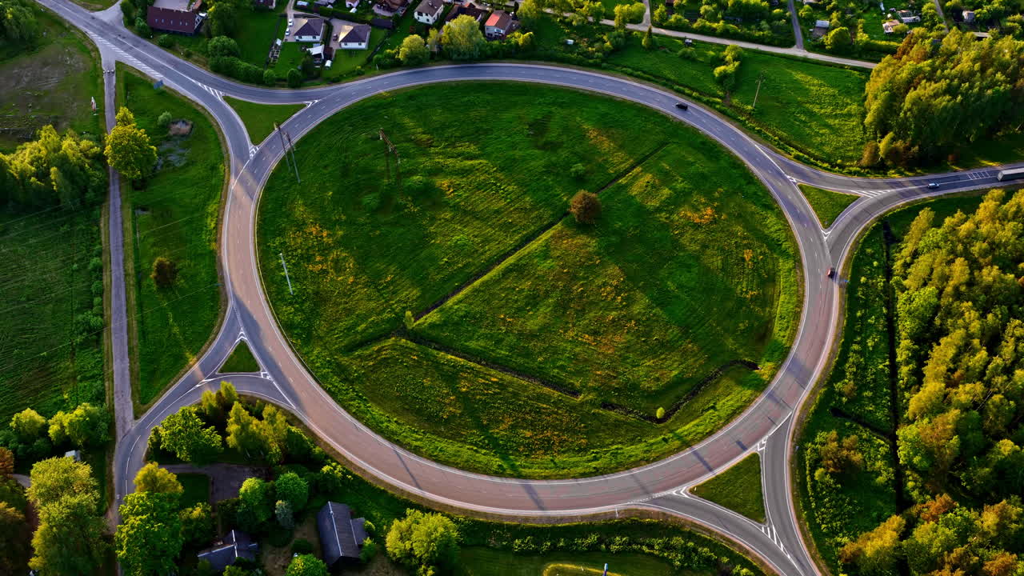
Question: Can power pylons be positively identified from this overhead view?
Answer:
Yes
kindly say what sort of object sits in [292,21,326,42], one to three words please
house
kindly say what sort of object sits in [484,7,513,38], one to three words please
house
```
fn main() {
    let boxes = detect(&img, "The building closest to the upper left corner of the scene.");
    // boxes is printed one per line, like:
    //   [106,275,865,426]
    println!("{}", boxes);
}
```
[145,3,203,36]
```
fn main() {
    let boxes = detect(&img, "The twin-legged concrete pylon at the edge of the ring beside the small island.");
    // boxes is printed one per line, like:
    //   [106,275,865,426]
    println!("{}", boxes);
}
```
[272,120,300,182]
